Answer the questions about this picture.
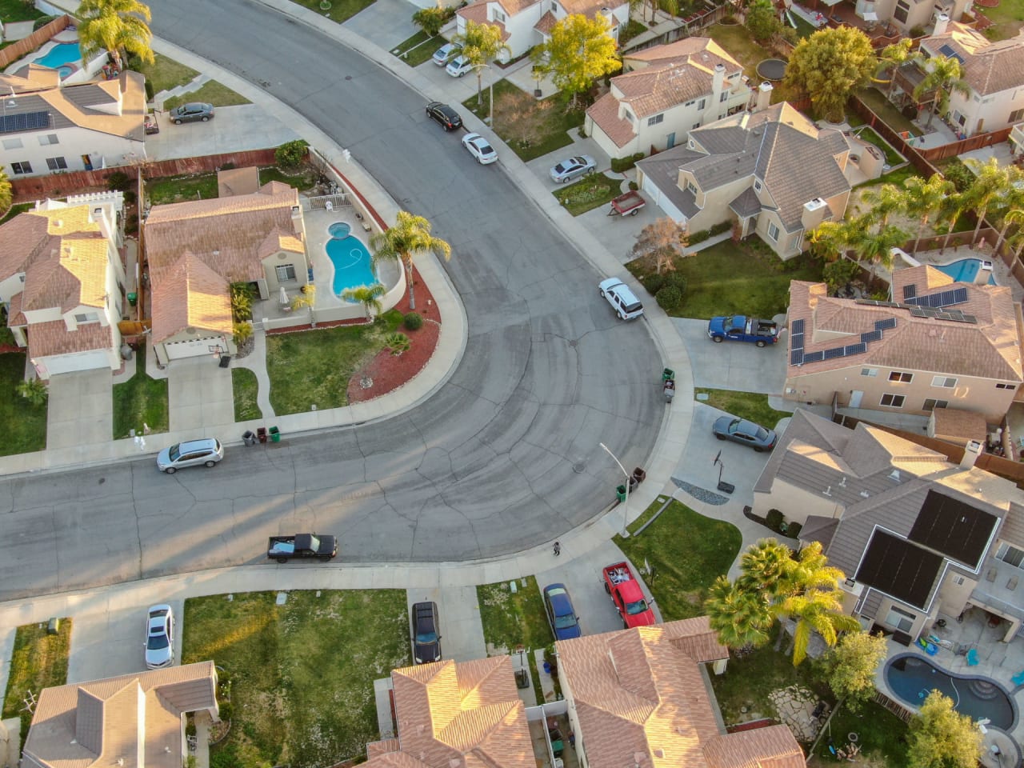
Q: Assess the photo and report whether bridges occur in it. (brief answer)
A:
No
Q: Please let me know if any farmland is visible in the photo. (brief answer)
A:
No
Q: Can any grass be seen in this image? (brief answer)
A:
Yes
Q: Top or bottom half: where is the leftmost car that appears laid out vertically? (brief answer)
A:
bottom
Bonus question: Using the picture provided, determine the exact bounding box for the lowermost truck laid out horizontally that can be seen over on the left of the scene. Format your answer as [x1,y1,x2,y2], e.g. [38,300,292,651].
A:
[262,529,342,564]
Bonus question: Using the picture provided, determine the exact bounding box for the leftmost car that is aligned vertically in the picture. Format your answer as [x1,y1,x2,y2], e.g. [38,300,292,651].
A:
[140,598,177,671]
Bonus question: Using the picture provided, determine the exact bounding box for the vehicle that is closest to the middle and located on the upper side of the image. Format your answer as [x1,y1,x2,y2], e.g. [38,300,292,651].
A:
[596,273,649,325]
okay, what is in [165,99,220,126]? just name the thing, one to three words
car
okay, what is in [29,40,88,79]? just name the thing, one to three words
swimming pool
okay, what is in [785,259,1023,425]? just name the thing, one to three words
house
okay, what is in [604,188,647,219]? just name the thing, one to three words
trailer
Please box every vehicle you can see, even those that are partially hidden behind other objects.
[596,273,649,325]
[427,38,469,69]
[542,575,582,642]
[544,152,602,185]
[458,130,503,169]
[706,414,781,453]
[422,99,468,135]
[165,99,220,126]
[707,314,781,344]
[158,434,226,473]
[140,598,177,671]
[262,529,342,564]
[409,595,444,666]
[601,555,657,629]
[440,52,479,81]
